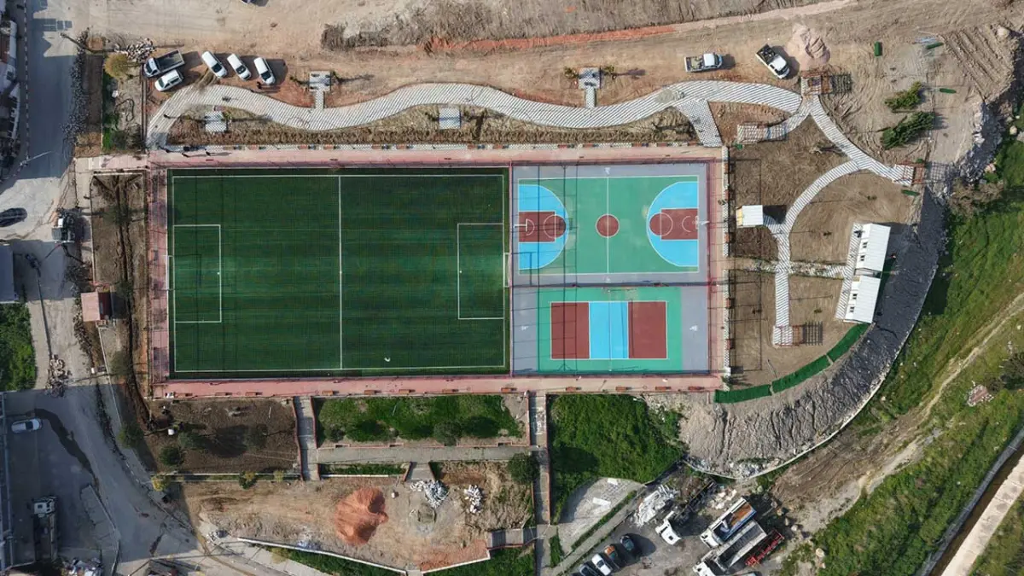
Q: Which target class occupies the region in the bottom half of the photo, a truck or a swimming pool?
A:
truck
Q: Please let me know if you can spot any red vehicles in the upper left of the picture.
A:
No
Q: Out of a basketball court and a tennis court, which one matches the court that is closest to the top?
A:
basketball court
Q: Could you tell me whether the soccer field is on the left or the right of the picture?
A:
left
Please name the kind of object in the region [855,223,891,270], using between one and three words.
building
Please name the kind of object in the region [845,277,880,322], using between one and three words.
building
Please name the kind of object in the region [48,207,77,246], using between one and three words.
work vehicle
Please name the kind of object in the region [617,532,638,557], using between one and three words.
car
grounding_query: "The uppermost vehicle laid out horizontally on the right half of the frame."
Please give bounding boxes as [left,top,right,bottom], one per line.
[685,54,721,71]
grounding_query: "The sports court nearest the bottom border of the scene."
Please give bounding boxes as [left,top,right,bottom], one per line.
[512,286,710,375]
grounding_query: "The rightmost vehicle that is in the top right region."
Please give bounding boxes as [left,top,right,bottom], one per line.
[758,45,788,79]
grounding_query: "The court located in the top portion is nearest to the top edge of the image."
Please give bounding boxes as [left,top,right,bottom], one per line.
[512,163,709,285]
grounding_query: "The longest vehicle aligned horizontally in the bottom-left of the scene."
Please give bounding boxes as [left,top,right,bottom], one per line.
[11,418,42,432]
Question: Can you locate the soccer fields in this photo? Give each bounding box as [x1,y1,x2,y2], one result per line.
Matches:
[166,163,510,379]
